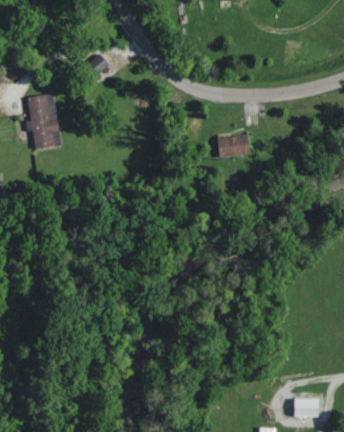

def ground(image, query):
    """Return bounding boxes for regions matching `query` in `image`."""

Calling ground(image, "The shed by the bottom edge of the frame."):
[294,398,319,418]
